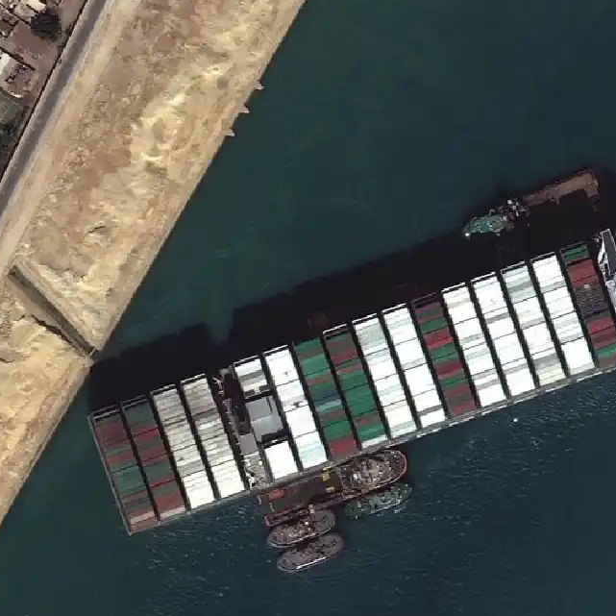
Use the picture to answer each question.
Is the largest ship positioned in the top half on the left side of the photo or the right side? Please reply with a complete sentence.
The largest ship positioned in the top half sits on the right side.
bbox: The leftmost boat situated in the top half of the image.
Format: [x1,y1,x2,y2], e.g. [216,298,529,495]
[462,198,521,239]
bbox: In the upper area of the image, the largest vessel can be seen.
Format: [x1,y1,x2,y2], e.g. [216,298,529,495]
[524,169,605,238]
